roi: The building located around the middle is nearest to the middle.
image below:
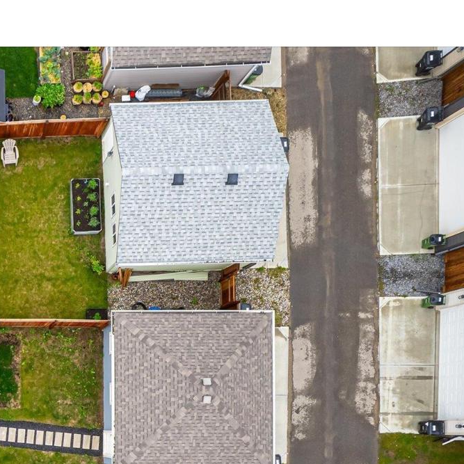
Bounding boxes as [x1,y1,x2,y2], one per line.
[100,98,289,274]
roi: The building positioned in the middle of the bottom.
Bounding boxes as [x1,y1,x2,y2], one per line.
[93,308,277,464]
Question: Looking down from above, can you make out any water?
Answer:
No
